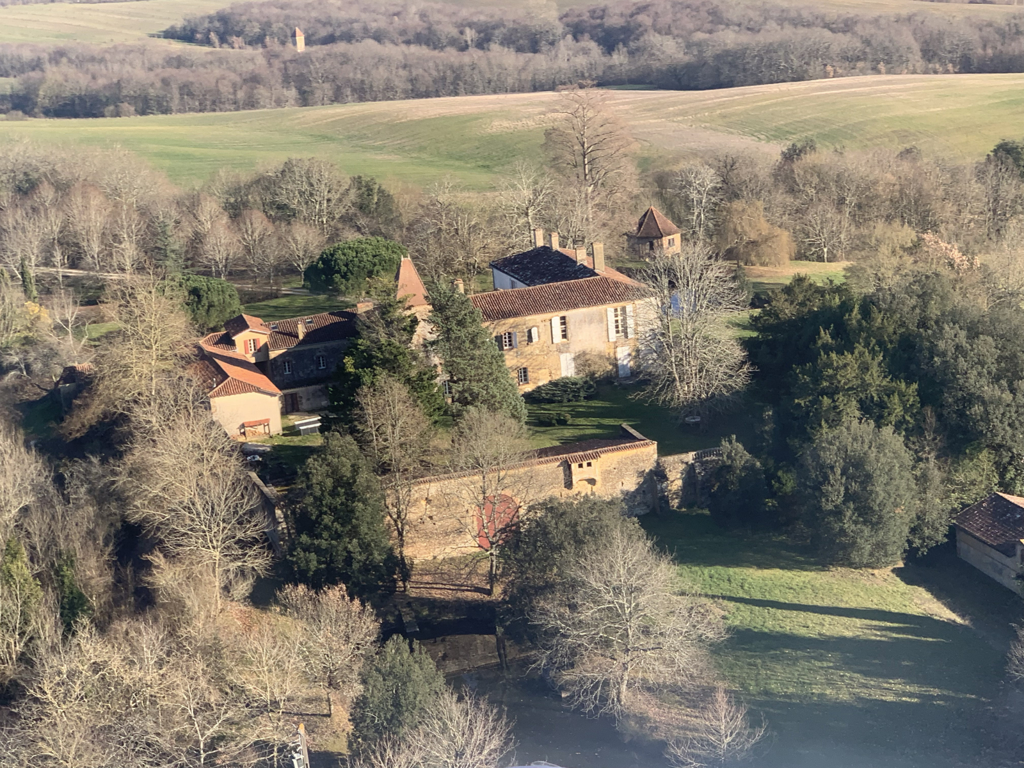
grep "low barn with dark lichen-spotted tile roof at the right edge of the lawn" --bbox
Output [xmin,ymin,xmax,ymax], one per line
[952,485,1024,585]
